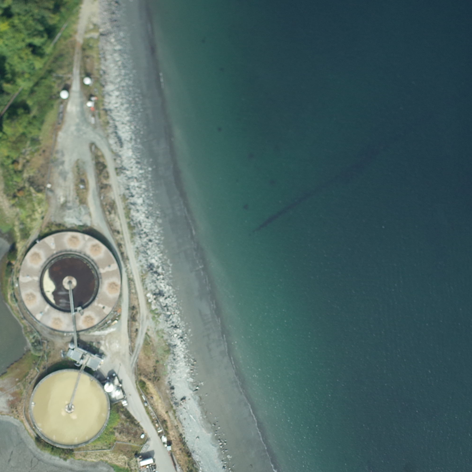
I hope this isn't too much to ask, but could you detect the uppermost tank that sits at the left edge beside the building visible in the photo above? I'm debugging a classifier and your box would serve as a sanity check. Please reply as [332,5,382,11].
[19,230,121,331]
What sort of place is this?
industrial area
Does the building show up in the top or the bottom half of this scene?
bottom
